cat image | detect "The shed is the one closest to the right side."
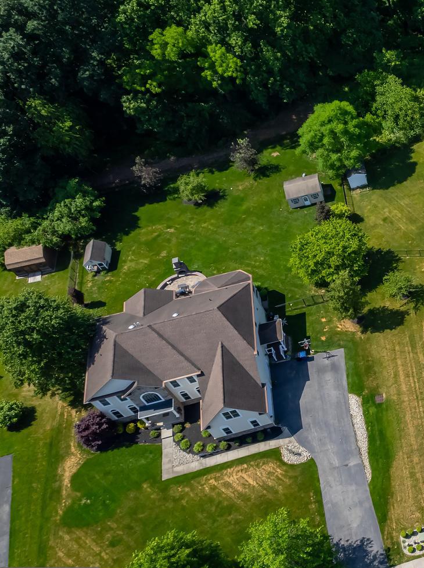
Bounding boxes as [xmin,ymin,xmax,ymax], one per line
[343,160,371,190]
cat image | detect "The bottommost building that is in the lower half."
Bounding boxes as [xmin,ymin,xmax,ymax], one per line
[84,269,289,439]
